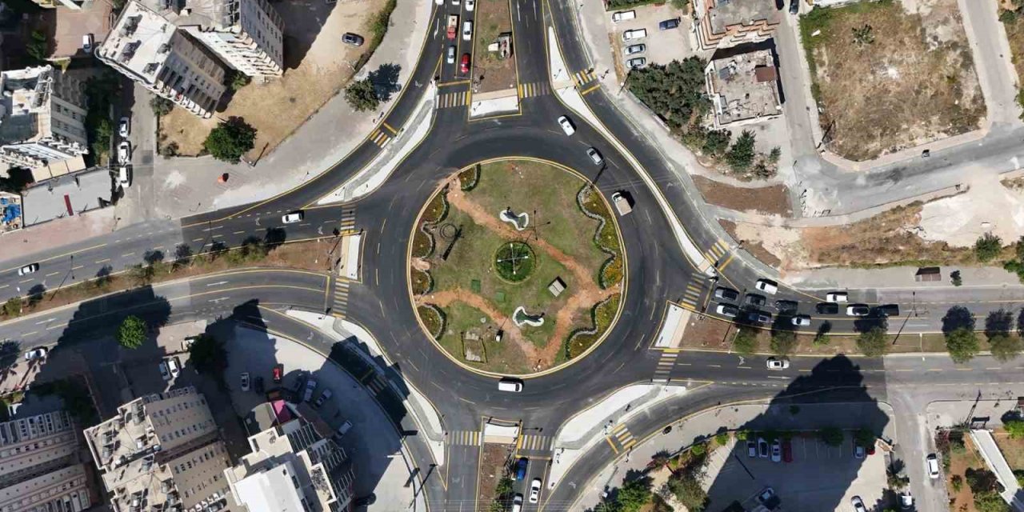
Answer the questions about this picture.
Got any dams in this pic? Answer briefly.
No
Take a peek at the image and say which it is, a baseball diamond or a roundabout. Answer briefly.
roundabout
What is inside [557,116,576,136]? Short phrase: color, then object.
white car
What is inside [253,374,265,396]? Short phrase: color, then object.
black vehicle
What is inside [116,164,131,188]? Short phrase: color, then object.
white vehicle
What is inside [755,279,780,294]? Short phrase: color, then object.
white vehicle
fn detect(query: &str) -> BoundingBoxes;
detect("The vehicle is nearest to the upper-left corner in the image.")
[81,33,93,53]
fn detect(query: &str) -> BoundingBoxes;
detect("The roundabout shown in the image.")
[352,107,681,427]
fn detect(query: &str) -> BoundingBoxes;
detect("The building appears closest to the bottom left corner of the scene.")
[0,411,97,512]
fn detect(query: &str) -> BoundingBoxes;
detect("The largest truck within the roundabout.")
[611,190,633,220]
